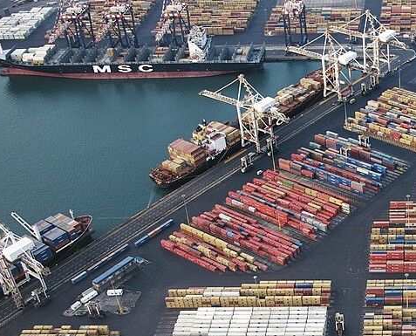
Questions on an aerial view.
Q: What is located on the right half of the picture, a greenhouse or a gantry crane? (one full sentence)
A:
Visible on the right half of the picture is a gantry crane.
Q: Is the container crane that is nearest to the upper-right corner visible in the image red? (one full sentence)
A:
No, the container crane that is nearest to the upper-right corner is white.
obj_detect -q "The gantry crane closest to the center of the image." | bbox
[189,77,296,164]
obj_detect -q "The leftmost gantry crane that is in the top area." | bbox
[32,0,91,49]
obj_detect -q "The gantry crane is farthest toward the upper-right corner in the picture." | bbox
[325,9,416,84]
